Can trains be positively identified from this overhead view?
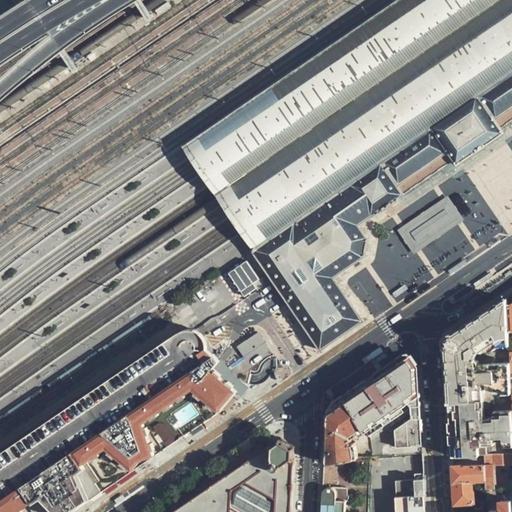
Yes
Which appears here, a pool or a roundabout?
pool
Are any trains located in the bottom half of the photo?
Yes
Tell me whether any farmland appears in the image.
No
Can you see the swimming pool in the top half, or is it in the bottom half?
bottom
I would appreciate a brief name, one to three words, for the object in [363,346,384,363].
vehicle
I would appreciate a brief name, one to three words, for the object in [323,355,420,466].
building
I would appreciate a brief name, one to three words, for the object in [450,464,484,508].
house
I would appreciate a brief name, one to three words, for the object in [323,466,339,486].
house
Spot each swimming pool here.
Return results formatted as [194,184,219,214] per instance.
[172,402,200,430]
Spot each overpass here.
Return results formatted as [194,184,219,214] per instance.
[0,0,152,102]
